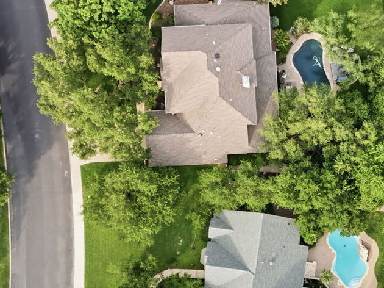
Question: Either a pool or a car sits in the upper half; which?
pool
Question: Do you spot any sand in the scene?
No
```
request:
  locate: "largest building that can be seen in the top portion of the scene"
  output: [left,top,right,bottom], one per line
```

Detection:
[145,1,280,166]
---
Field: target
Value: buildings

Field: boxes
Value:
[205,211,309,288]
[145,1,280,166]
